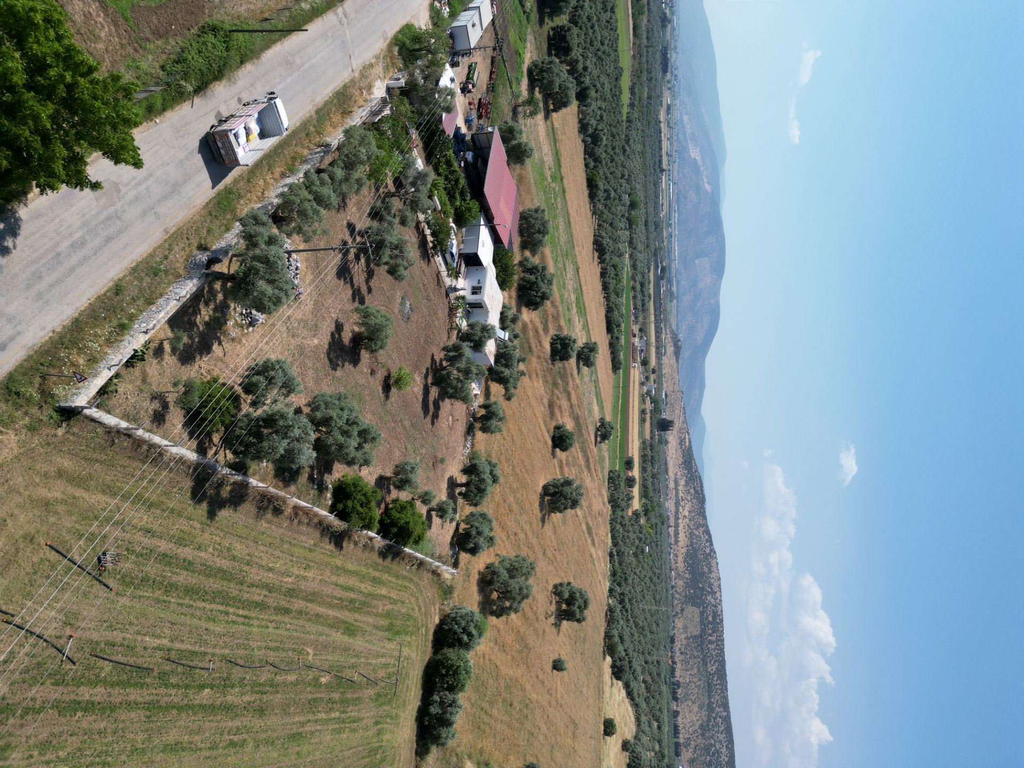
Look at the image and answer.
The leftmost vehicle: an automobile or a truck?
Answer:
truck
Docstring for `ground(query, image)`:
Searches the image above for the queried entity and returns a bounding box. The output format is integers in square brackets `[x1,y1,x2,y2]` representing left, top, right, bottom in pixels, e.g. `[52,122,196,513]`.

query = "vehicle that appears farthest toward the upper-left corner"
[209,95,292,166]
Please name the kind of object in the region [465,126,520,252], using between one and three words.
shed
